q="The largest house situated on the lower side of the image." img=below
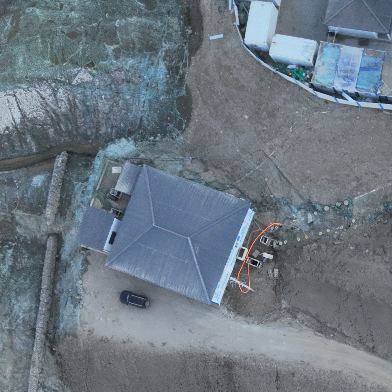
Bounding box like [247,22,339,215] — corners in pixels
[106,165,251,307]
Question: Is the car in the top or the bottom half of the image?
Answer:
bottom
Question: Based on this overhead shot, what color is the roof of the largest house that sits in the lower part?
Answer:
blue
